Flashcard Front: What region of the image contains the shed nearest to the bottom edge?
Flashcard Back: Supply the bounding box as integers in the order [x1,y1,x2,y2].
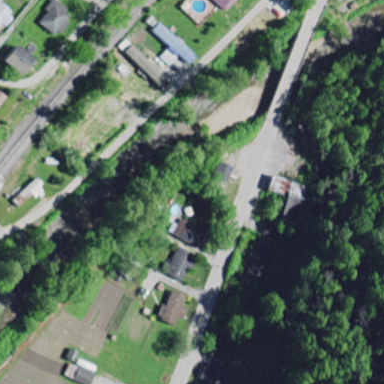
[64,364,94,384]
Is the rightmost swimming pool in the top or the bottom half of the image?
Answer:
top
